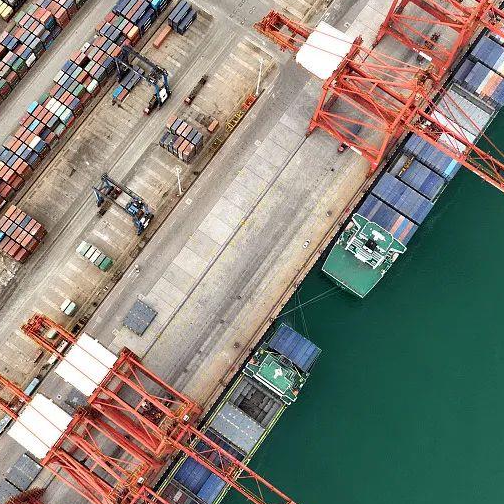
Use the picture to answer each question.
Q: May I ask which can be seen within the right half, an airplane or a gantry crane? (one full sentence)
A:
Visible within the right half is a gantry crane.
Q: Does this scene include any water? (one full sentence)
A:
Yes, there's water in this view.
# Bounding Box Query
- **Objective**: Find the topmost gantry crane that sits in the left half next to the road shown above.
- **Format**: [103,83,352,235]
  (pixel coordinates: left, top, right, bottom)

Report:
[112,45,172,109]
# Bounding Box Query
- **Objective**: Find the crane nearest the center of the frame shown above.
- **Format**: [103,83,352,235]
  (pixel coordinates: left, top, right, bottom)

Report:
[91,175,154,236]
